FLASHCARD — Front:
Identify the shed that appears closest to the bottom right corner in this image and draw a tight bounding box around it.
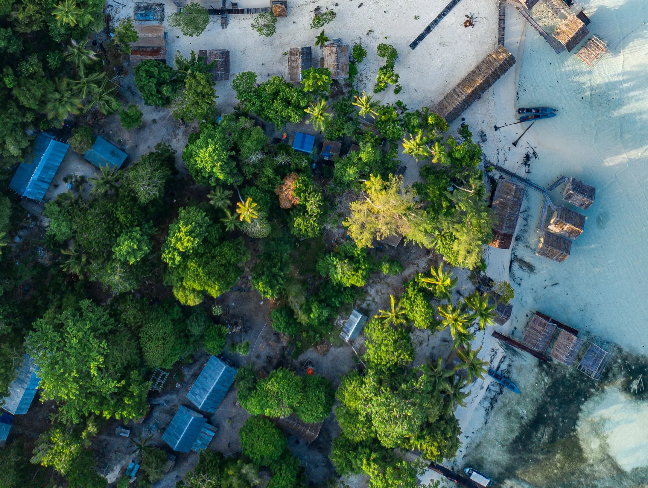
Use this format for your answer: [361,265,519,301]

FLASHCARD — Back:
[547,324,583,365]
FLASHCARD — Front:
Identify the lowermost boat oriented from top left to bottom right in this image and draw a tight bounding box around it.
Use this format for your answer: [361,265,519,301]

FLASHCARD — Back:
[464,467,493,488]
